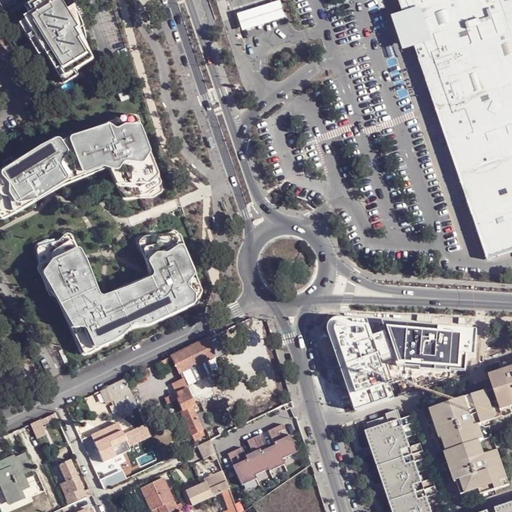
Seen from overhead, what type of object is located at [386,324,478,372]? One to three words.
building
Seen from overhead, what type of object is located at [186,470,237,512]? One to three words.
house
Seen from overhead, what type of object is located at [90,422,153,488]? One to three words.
house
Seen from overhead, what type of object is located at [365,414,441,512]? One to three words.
building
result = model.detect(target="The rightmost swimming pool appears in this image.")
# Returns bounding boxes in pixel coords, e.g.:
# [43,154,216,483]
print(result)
[136,451,157,467]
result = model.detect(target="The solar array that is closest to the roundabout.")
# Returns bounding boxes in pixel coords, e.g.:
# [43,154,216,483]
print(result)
[96,296,171,336]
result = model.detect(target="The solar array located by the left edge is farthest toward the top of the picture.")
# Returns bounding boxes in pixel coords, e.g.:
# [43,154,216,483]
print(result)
[6,142,54,176]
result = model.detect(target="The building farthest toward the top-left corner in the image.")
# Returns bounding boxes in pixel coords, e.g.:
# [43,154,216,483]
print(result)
[18,0,94,78]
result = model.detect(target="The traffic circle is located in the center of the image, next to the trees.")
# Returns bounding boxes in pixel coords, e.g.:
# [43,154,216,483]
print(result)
[240,220,334,312]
